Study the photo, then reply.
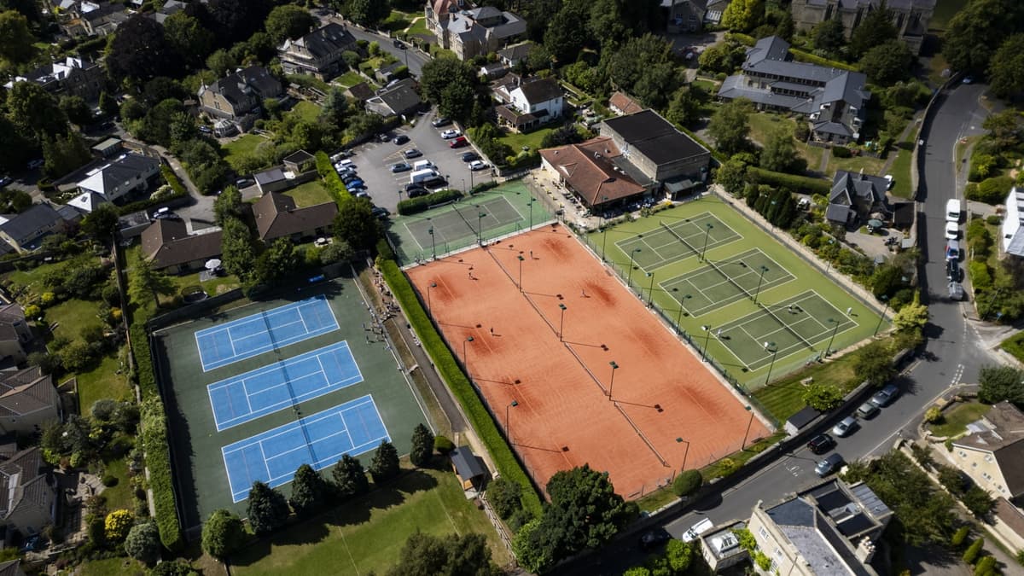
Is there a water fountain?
No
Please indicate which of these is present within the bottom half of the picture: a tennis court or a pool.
tennis court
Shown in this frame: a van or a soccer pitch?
van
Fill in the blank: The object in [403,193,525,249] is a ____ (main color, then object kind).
gray tennis court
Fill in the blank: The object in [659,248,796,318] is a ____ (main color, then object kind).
green tennis court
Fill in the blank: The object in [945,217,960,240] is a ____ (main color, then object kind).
white vehicle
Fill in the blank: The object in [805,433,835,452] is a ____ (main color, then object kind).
black car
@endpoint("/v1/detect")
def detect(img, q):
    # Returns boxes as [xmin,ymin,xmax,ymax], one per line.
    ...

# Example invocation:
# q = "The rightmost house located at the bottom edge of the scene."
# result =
[945,402,1024,560]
